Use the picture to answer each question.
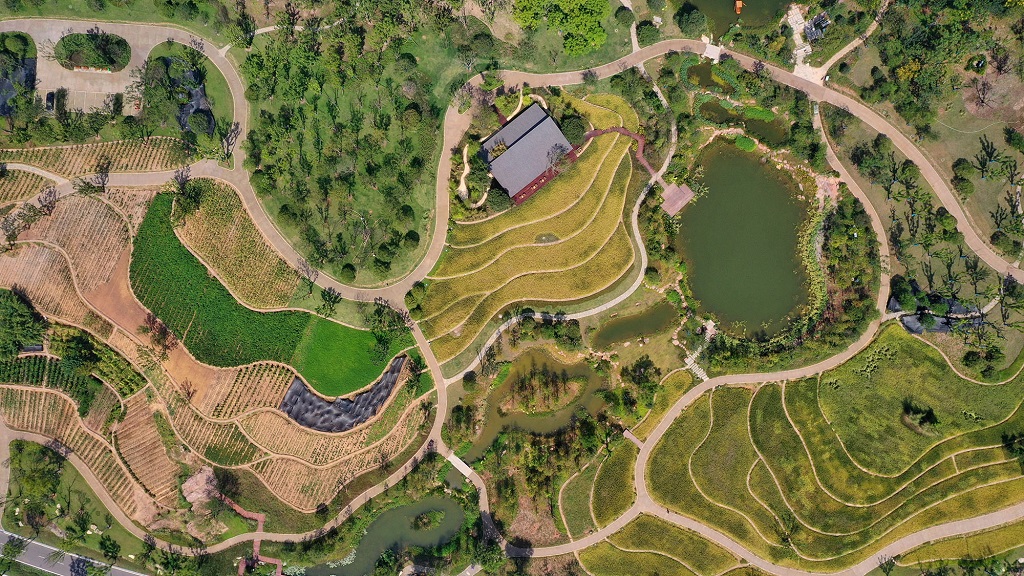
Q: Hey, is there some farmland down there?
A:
Yes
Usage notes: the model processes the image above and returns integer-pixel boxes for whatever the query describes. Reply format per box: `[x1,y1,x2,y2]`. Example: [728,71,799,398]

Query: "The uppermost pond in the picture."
[693,0,792,46]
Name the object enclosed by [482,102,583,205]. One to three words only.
building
